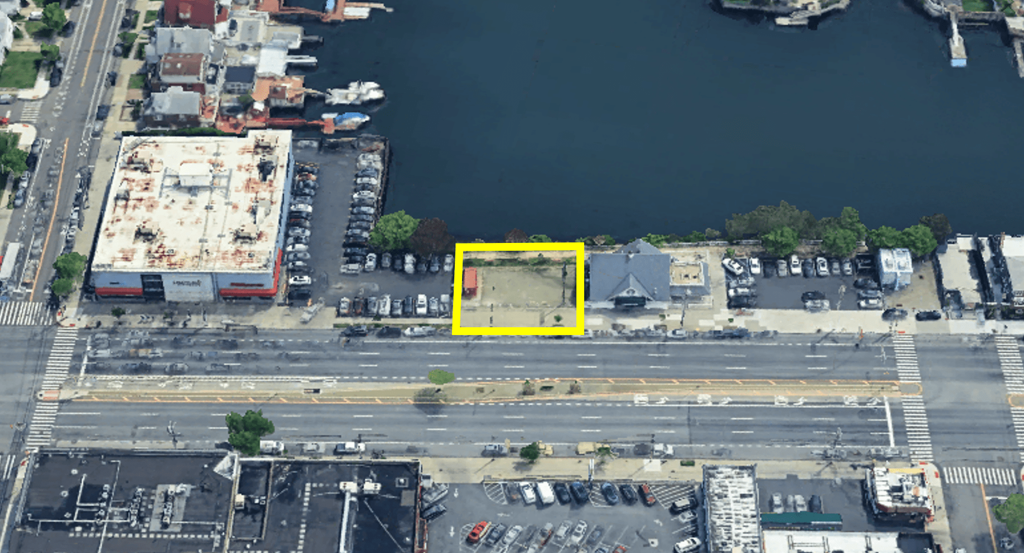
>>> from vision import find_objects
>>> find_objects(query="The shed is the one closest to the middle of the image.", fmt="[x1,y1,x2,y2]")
[465,269,478,298]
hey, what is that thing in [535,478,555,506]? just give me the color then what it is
white vehicle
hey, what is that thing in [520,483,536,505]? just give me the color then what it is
white car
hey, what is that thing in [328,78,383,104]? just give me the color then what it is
white boat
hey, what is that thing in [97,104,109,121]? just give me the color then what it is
blue vehicle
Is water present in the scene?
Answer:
Yes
